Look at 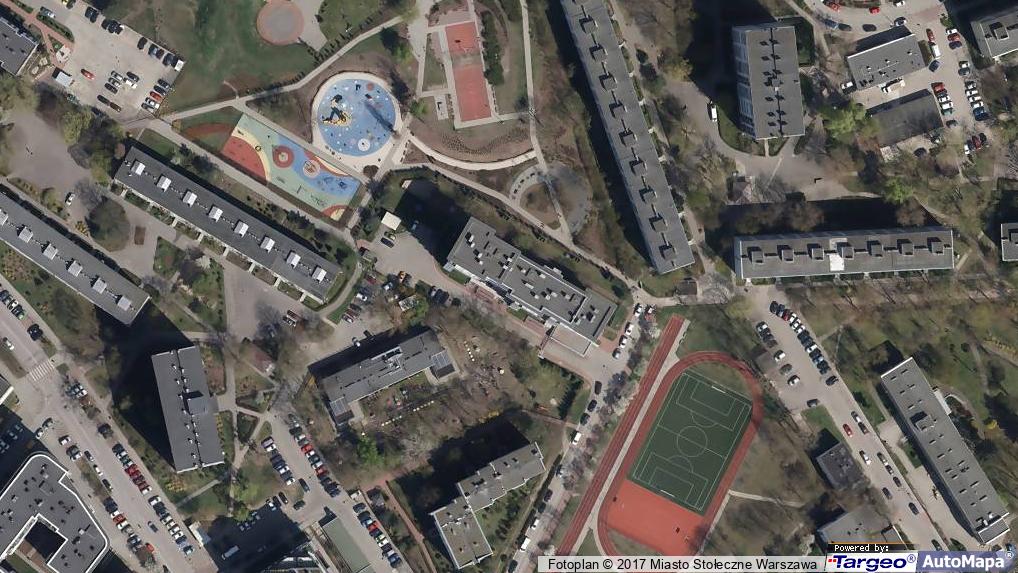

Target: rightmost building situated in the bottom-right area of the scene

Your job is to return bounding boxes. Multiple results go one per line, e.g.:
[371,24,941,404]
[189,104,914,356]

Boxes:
[875,355,1010,545]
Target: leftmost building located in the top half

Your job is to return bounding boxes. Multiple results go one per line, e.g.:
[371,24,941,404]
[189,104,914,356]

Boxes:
[0,15,38,75]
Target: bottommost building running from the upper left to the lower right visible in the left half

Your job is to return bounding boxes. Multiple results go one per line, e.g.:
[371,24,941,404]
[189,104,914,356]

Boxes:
[322,515,379,573]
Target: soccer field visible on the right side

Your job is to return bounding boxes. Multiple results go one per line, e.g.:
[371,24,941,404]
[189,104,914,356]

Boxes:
[628,369,755,513]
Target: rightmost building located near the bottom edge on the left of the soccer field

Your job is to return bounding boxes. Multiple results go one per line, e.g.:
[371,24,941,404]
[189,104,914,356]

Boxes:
[430,438,546,568]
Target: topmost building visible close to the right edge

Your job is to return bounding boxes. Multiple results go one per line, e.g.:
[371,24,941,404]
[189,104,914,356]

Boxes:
[968,5,1018,59]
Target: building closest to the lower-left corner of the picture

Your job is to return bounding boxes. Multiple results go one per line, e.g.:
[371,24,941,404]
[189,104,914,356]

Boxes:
[0,450,113,573]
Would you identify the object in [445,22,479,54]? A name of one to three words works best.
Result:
sports court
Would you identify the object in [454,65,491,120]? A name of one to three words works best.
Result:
sports court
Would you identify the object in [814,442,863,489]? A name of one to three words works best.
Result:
building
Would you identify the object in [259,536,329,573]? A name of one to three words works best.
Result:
building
